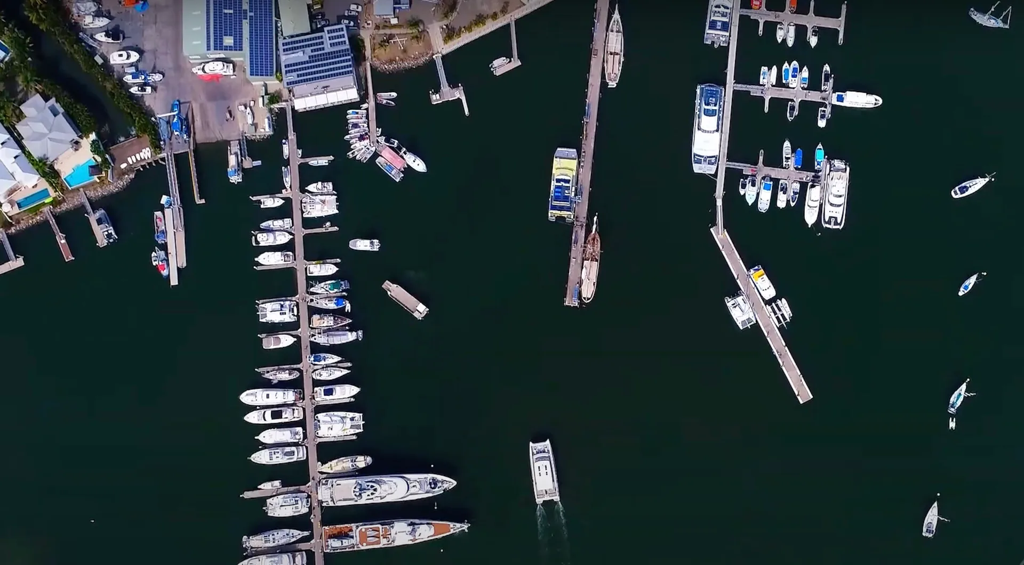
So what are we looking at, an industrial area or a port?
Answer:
port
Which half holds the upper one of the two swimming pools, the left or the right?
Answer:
left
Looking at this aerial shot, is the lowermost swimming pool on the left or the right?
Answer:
left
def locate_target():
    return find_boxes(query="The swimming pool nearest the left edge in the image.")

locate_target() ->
[3,180,53,215]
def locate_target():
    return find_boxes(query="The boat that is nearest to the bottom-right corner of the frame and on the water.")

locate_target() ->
[923,501,953,536]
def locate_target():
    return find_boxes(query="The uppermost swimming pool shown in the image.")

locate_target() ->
[52,137,97,188]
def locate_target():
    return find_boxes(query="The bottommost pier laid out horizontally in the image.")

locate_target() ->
[249,540,315,555]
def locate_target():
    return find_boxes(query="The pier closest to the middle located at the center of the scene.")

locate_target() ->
[565,224,587,306]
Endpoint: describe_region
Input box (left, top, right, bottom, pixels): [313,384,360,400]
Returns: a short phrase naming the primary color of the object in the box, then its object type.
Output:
white boat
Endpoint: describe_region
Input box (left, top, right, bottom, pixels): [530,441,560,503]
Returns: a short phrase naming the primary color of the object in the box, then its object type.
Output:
white vessel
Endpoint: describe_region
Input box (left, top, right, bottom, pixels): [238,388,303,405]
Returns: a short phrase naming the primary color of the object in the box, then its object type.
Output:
white boat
